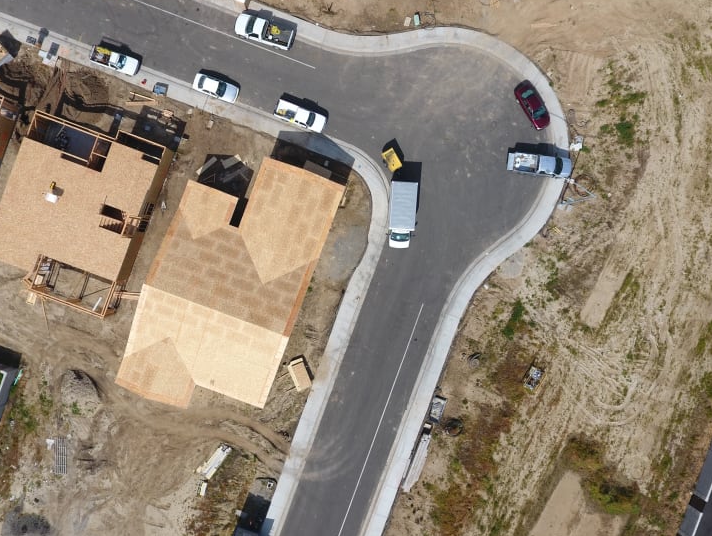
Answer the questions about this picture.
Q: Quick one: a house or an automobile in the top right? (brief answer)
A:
automobile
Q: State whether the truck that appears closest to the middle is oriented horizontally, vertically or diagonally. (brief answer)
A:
vertically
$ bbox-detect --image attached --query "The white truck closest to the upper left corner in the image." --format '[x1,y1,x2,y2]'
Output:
[88,42,144,77]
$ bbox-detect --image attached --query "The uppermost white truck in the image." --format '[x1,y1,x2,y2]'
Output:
[233,15,296,51]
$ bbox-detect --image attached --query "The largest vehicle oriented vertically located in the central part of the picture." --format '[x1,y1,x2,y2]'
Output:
[384,176,418,247]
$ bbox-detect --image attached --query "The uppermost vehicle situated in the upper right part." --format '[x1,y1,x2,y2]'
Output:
[513,80,549,133]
